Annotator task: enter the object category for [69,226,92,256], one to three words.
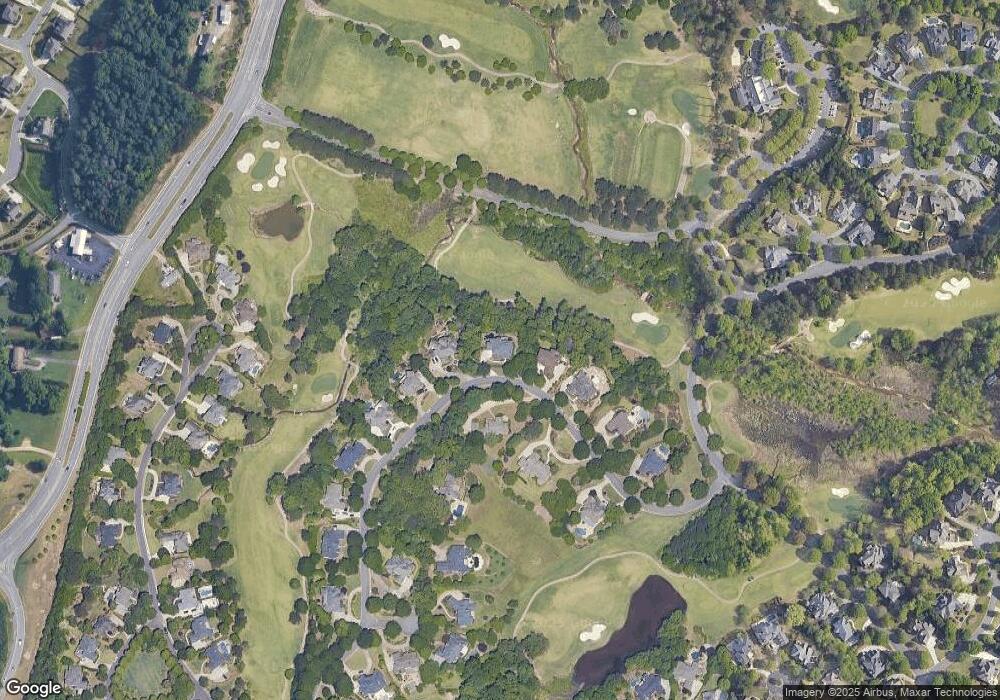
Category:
building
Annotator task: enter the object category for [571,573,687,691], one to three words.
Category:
pond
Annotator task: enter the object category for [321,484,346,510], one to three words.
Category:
house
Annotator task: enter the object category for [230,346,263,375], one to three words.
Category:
house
